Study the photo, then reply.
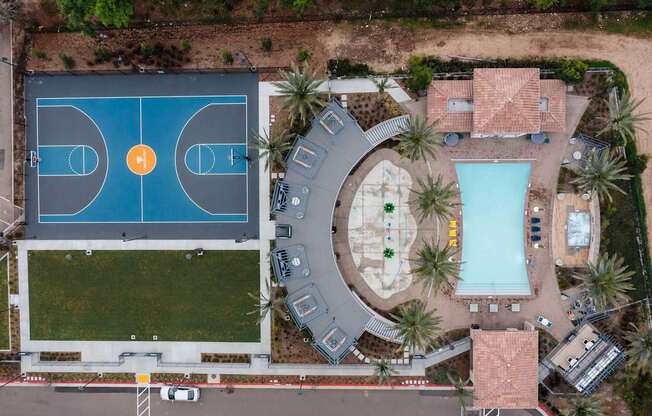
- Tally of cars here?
one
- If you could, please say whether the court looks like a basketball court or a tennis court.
basketball court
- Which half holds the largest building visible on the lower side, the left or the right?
right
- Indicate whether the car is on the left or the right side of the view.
left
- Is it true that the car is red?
No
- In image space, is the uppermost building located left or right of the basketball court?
on the right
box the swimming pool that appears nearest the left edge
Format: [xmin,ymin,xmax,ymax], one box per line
[452,158,535,299]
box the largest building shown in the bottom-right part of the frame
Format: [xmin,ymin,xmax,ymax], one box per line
[468,329,539,410]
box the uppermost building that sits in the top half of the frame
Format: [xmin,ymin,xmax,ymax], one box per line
[425,67,567,139]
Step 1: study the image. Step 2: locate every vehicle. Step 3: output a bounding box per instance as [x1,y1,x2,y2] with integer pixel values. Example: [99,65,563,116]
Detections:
[160,384,201,403]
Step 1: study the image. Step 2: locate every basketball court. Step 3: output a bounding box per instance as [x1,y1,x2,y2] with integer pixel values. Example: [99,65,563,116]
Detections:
[24,72,259,240]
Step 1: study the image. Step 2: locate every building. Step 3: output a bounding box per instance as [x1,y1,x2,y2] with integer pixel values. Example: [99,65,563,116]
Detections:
[468,329,539,410]
[425,67,567,139]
